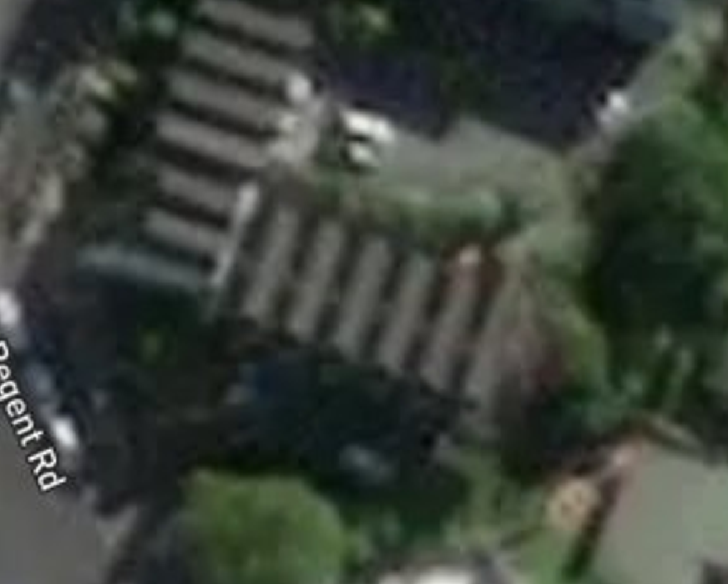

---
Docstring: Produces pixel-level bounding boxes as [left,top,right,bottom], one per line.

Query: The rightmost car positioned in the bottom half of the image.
[331,440,387,483]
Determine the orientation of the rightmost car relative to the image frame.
at an angle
